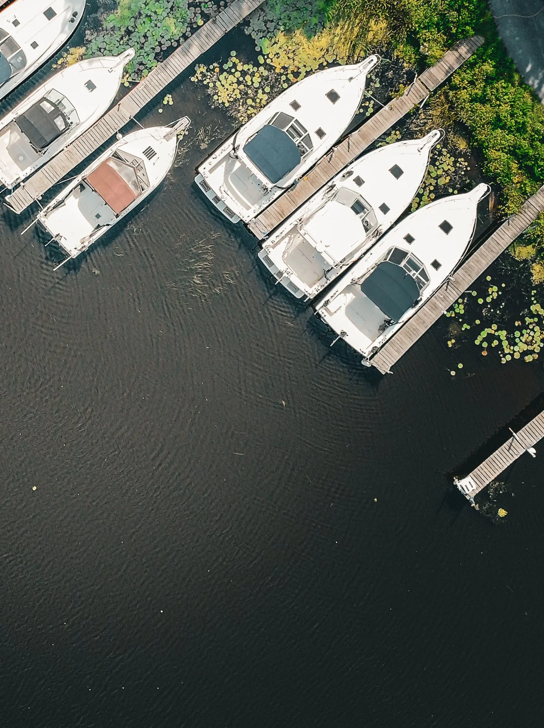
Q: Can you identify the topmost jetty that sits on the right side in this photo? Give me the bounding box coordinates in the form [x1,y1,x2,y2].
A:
[249,31,487,238]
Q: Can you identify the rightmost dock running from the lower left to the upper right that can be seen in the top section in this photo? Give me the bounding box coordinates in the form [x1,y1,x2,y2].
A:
[371,183,544,374]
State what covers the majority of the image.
water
